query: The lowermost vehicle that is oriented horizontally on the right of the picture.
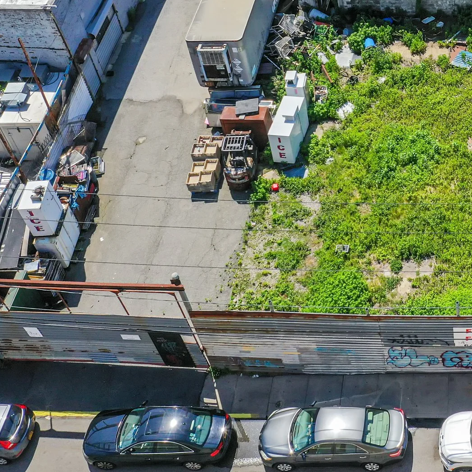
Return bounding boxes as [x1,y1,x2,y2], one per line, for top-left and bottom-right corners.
[260,400,412,472]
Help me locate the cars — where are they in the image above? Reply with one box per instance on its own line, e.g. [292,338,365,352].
[86,400,244,472]
[260,400,412,472]
[0,406,54,470]
[439,407,472,472]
